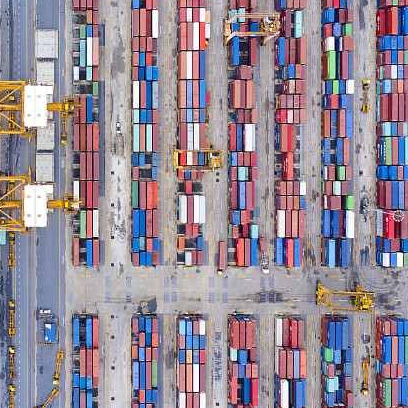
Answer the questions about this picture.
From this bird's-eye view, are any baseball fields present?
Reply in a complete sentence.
No, there appears to be no baseball field in this shot.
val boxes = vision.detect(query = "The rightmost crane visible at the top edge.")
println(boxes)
[224,12,279,47]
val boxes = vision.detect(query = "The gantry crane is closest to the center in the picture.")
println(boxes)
[173,145,224,174]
